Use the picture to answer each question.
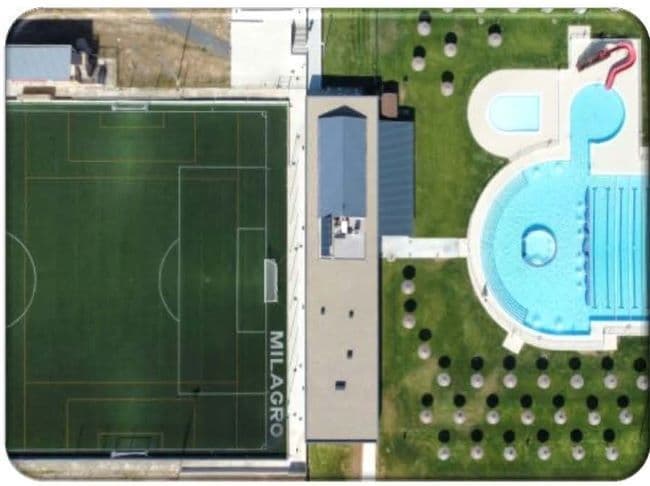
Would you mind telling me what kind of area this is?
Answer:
sports ground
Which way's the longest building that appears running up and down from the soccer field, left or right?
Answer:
to the right of it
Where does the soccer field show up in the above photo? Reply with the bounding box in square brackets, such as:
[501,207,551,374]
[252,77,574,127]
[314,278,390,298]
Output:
[0,103,288,459]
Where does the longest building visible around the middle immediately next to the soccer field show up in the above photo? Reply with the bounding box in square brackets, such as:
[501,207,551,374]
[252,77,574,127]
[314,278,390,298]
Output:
[308,96,380,441]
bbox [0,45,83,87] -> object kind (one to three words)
building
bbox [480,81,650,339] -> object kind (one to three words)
swimming pool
